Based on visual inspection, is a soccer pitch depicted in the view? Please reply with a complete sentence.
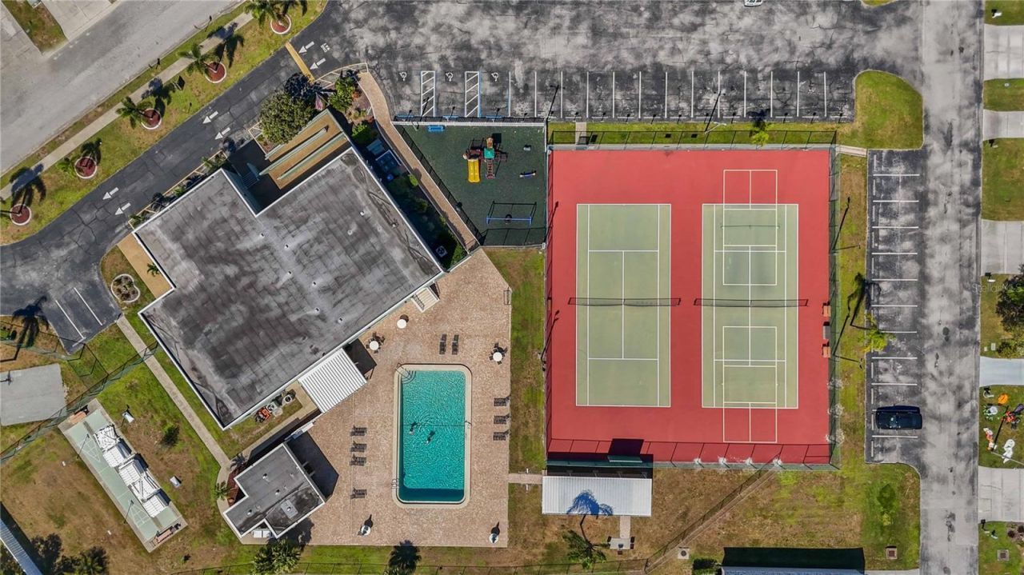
No, this view has no soccer pitch in it.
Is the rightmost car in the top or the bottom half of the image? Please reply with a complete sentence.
It is in the bottom half that the rightmost car appears.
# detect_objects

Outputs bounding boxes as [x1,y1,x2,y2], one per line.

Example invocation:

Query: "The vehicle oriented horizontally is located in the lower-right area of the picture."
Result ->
[877,408,926,430]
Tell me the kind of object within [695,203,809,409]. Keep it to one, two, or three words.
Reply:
tennis court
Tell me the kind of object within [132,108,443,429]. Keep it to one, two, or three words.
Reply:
building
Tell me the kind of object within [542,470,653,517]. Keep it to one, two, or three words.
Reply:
building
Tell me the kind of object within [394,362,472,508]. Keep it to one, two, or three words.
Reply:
swimming pool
